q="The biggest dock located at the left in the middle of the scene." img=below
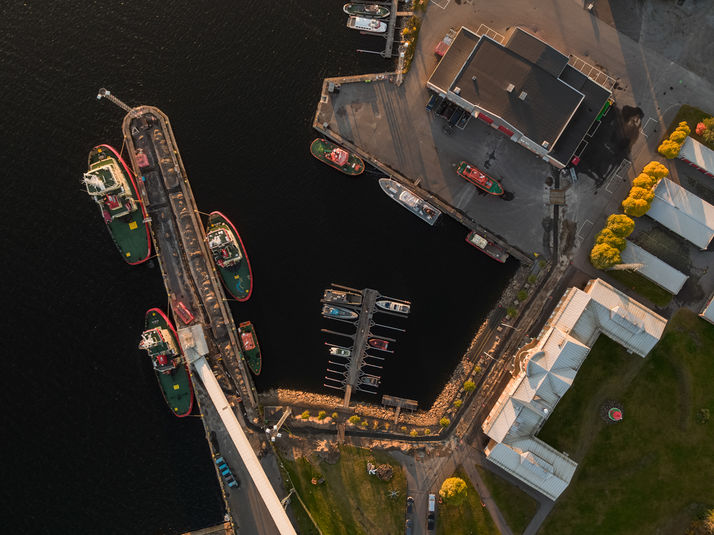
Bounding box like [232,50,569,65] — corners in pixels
[123,105,259,404]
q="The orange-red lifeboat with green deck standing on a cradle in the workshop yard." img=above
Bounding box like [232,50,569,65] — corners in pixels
[457,162,504,194]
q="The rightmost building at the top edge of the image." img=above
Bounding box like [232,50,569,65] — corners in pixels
[425,25,612,169]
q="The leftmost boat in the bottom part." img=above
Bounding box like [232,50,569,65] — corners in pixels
[137,306,196,418]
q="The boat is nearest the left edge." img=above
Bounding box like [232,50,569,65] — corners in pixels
[83,144,153,266]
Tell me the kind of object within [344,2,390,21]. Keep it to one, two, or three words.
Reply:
boat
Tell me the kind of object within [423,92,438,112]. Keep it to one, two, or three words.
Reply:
car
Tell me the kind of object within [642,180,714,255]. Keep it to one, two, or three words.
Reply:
shed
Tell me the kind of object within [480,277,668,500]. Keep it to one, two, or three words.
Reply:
house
